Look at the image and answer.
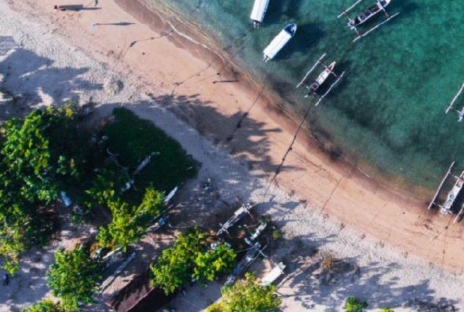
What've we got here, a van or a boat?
boat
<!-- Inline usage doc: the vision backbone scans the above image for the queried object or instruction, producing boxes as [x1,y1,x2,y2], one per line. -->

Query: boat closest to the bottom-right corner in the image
[429,164,464,222]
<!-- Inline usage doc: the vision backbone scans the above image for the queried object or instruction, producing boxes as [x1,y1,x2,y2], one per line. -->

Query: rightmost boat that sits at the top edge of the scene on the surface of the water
[338,0,398,41]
